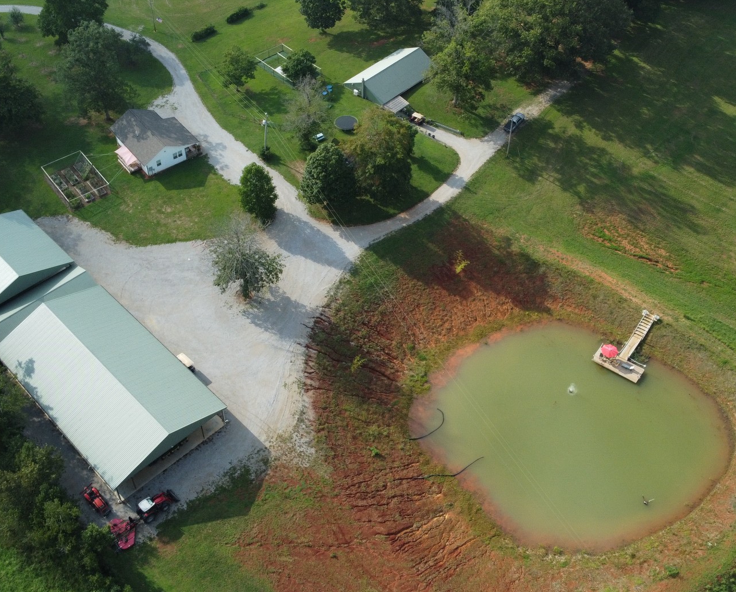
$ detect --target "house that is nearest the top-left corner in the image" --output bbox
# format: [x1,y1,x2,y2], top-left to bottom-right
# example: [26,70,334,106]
[110,110,200,176]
